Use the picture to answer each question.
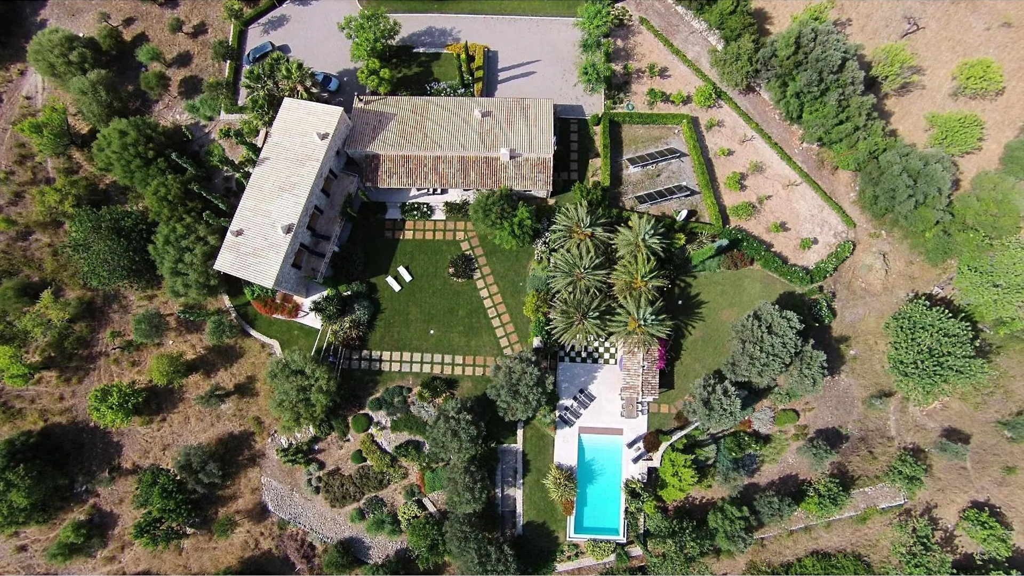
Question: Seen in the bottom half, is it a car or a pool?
pool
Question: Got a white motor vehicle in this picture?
No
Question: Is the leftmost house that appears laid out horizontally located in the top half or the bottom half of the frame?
top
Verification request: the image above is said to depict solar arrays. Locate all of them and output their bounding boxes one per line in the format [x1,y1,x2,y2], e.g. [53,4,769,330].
[626,146,680,174]
[634,184,690,209]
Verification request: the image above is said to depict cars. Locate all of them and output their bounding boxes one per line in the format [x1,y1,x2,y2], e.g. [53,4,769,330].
[312,67,346,97]
[243,39,281,71]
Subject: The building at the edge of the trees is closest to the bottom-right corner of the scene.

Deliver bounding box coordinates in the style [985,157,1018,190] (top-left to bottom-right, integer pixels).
[618,345,662,400]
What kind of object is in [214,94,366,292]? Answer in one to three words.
house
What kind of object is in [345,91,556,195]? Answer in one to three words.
house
